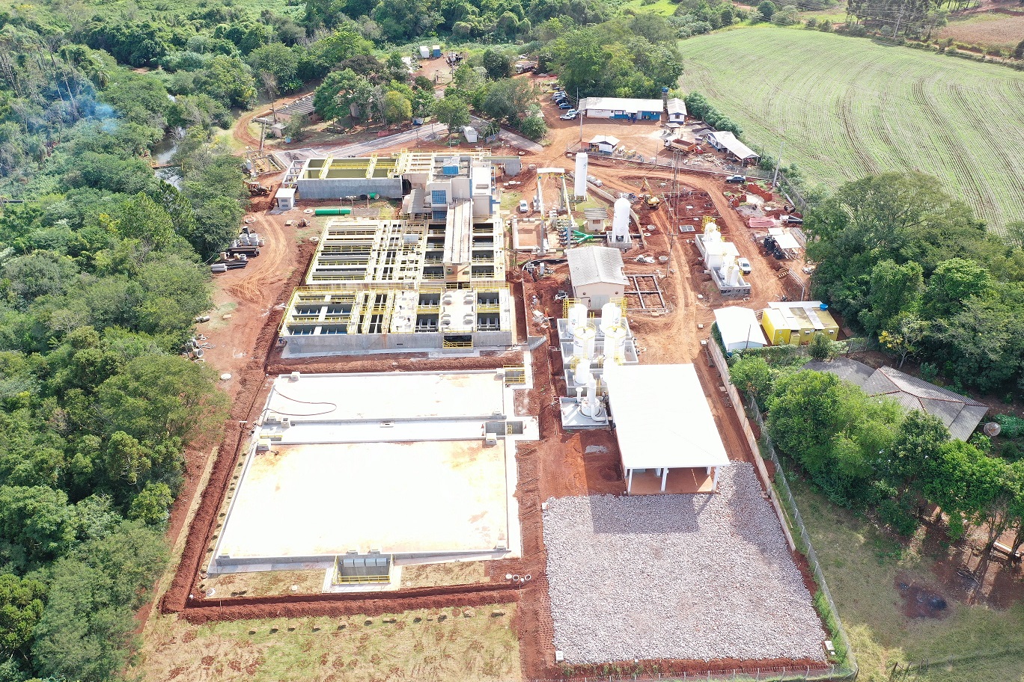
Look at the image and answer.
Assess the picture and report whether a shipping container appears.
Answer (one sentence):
Yes, there's a shipping container down there.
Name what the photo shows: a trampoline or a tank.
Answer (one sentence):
Looking from above, you can make out a tank.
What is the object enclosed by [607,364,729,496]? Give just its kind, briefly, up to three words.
shed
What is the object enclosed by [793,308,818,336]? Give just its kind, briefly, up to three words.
shipping container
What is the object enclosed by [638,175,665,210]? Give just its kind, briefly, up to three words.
work vehicle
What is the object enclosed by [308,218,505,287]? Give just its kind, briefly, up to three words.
storage tank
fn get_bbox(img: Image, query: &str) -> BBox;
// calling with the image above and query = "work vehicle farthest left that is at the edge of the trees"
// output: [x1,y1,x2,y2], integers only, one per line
[239,180,274,195]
